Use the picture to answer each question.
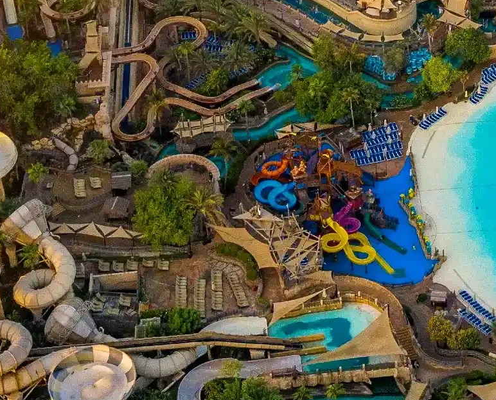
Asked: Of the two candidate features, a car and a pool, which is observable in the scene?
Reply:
pool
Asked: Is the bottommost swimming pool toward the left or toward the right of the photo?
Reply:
right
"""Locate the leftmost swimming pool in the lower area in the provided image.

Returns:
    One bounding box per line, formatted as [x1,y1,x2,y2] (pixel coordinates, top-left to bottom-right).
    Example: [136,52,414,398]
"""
[272,302,382,367]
